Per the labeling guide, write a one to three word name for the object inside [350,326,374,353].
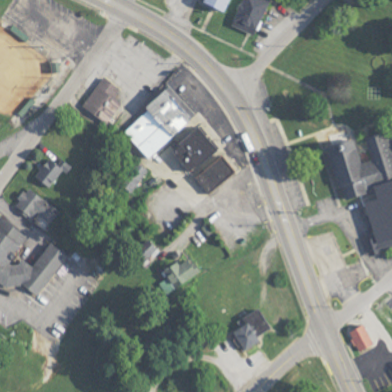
building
